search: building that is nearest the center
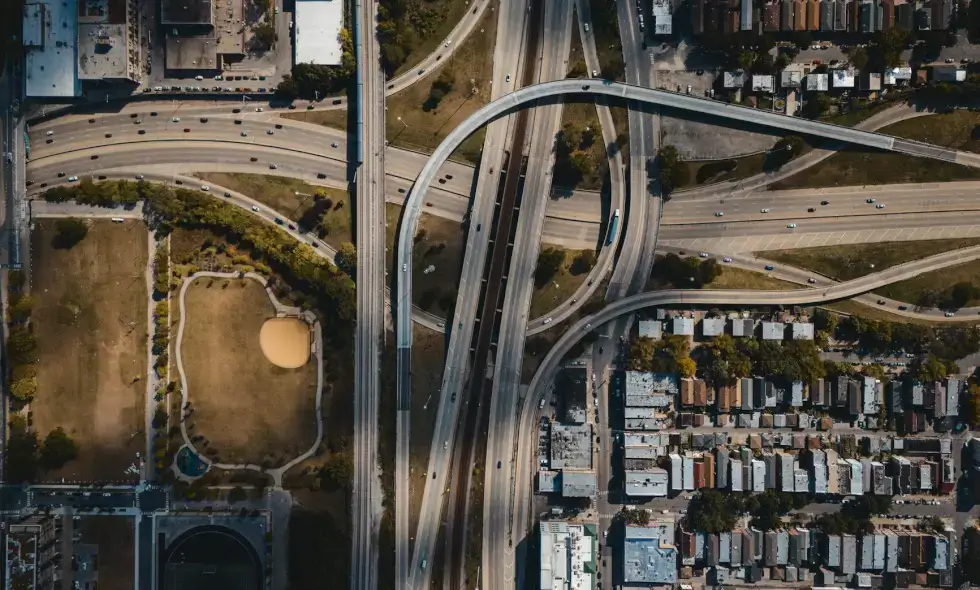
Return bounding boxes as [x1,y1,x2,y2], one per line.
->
[555,365,586,409]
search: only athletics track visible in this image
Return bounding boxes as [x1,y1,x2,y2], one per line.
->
[157,516,266,590]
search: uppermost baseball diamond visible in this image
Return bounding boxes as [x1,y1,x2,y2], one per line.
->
[260,318,310,368]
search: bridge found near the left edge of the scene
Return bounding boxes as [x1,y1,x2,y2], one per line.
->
[0,102,32,300]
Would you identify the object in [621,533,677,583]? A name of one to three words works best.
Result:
building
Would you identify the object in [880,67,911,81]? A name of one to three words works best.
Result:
house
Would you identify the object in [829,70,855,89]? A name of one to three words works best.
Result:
house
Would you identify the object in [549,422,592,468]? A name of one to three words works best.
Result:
building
